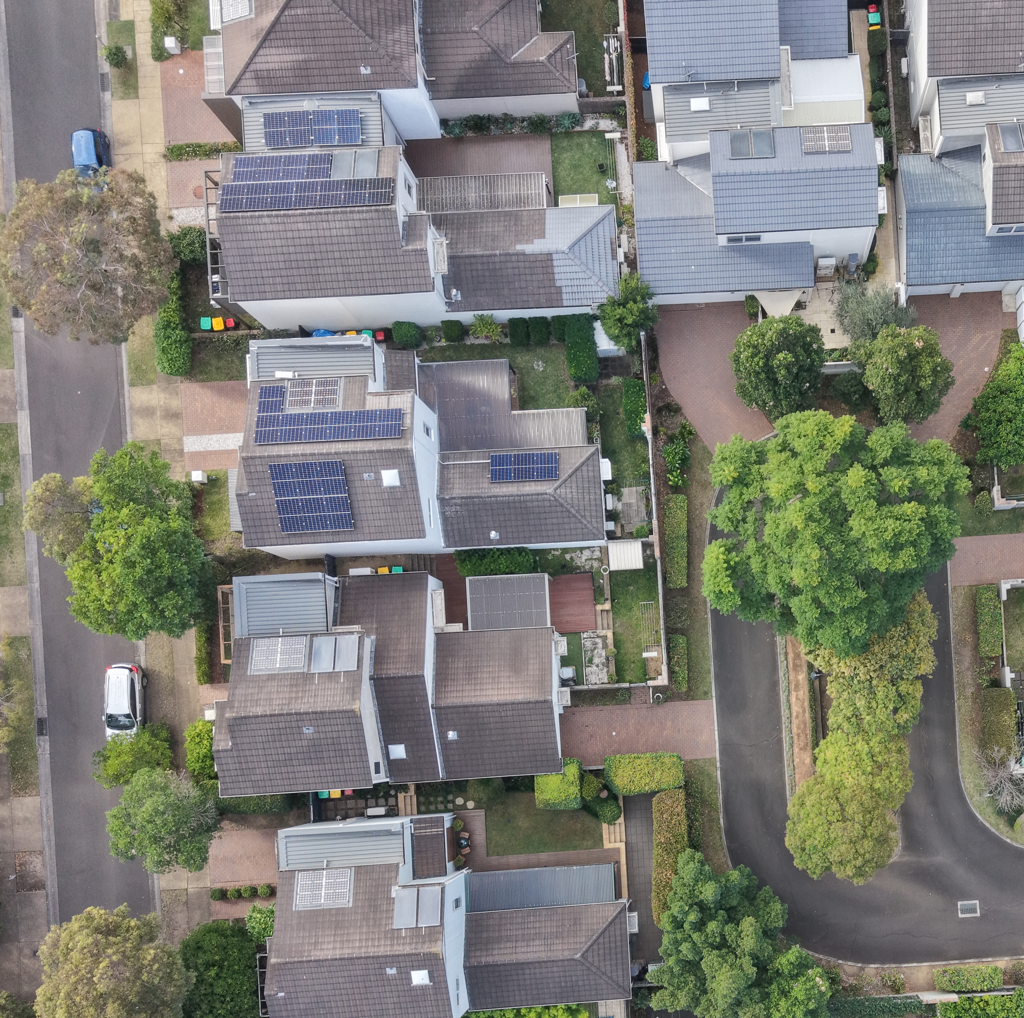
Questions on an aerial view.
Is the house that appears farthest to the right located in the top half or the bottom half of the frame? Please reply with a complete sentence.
Seen from above, the house that appears farthest to the right lies in the top half of the view.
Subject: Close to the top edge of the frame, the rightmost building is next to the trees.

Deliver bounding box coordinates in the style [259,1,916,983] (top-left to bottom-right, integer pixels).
[898,0,1024,297]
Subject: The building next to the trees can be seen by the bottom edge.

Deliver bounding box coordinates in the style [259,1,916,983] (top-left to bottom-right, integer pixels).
[257,813,638,1018]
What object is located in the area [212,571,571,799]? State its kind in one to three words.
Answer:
house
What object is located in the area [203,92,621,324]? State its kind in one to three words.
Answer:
house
